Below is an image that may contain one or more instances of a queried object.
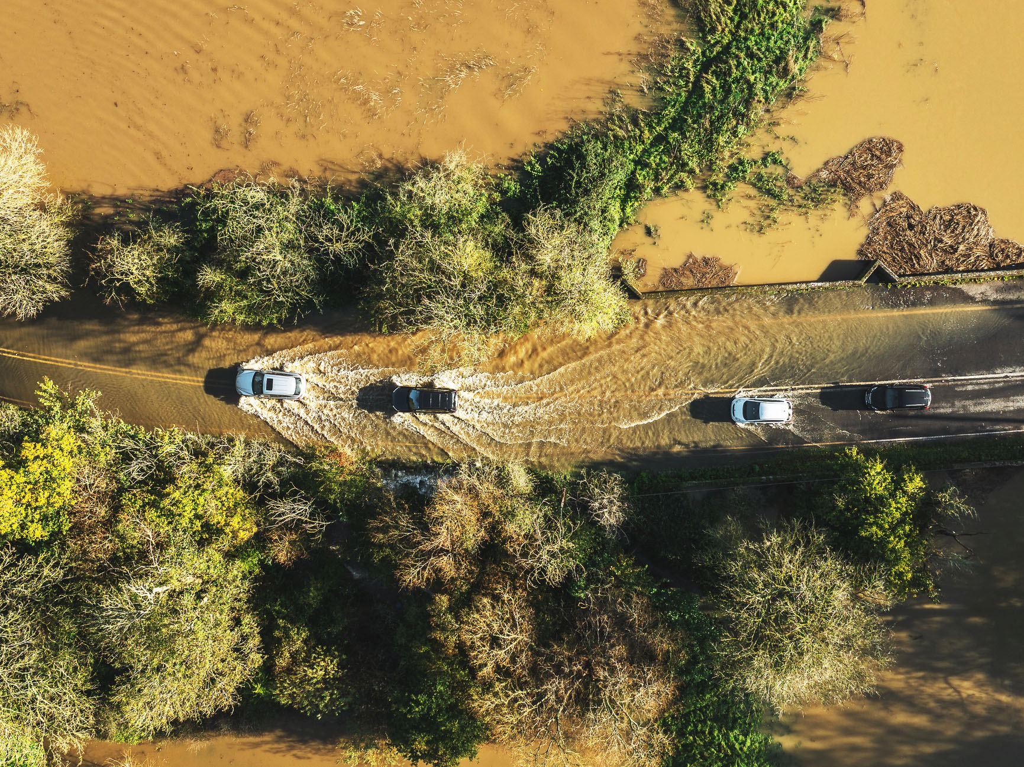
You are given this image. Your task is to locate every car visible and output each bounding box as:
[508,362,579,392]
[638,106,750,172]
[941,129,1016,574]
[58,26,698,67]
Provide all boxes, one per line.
[861,381,934,414]
[393,383,460,416]
[728,393,791,426]
[238,367,311,401]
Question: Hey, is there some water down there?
Yes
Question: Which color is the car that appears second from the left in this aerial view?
black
